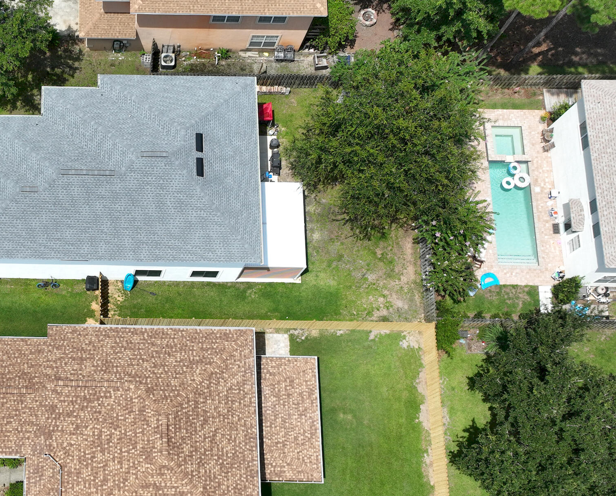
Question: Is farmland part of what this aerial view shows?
No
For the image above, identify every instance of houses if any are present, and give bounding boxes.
[77,0,328,54]
[551,78,616,286]
[0,324,325,496]
[0,74,308,280]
